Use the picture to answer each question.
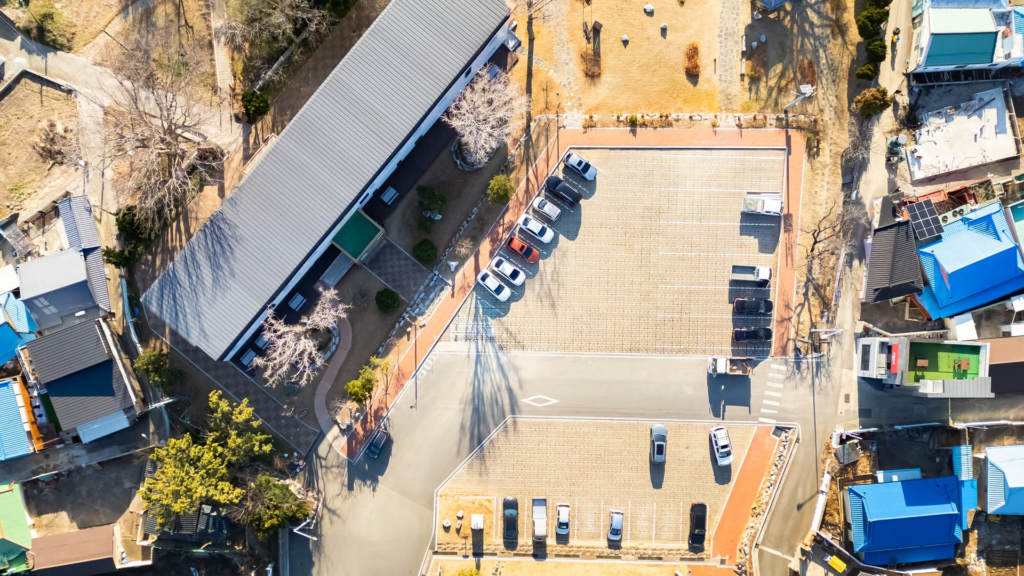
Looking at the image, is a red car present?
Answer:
Yes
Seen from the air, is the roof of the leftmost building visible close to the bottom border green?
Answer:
Yes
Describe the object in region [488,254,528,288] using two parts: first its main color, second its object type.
white car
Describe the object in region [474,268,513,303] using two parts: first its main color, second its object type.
white car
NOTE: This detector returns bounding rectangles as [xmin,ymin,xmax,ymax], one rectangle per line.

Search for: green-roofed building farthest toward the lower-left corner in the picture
[0,481,47,574]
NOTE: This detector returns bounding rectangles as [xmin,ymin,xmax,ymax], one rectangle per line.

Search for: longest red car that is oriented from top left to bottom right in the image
[503,233,542,265]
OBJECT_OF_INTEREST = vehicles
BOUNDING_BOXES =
[530,194,565,224]
[710,425,733,467]
[729,264,774,284]
[503,233,542,265]
[530,496,549,541]
[488,254,528,288]
[544,173,584,209]
[794,343,805,357]
[707,357,756,377]
[555,503,572,534]
[731,326,773,345]
[689,502,708,546]
[561,149,600,183]
[474,268,513,303]
[607,509,624,541]
[650,424,669,464]
[501,497,520,540]
[739,194,785,213]
[732,296,773,315]
[517,212,556,246]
